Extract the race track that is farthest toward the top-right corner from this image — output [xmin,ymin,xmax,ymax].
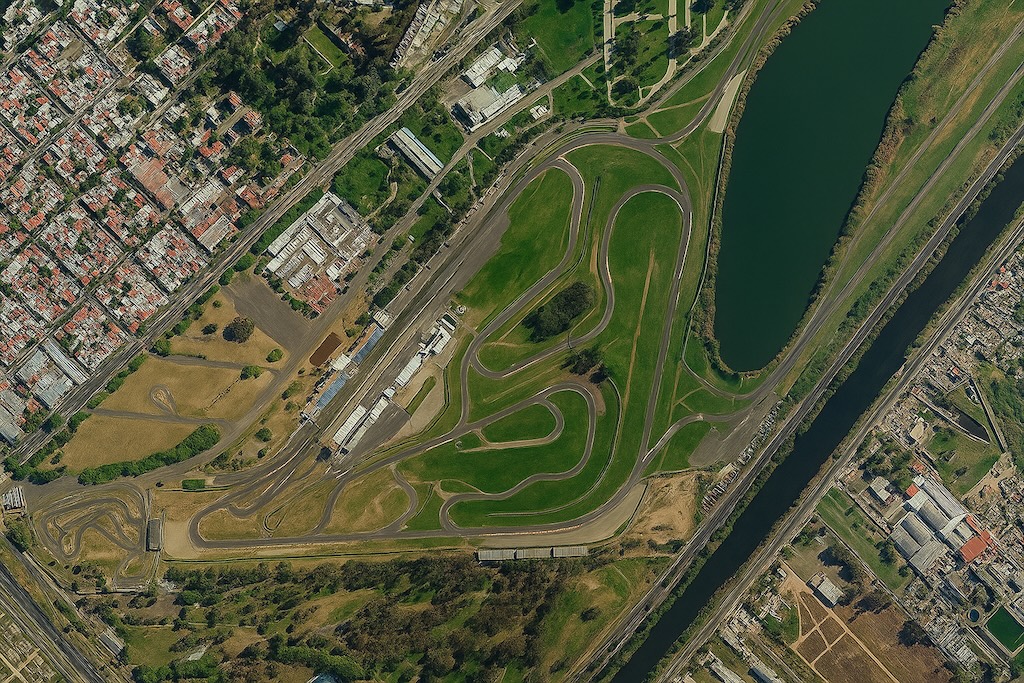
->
[164,0,1024,557]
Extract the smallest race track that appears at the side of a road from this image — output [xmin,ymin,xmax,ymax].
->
[31,482,147,585]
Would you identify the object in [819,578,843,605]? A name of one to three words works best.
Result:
building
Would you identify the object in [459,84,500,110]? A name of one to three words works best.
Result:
building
